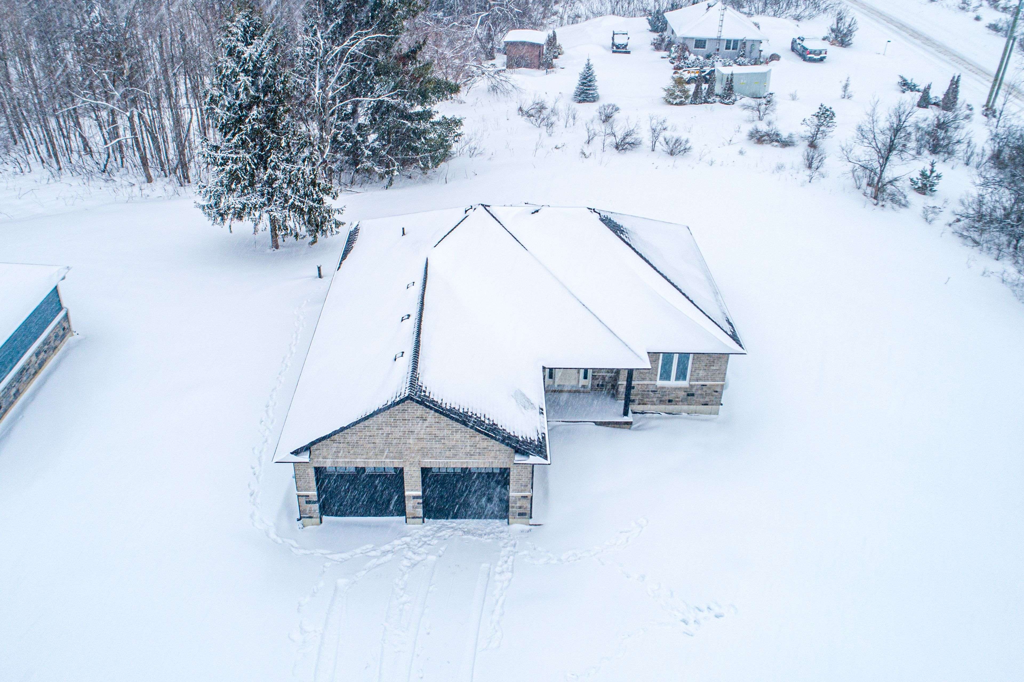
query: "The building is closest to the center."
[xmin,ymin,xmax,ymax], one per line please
[269,200,750,527]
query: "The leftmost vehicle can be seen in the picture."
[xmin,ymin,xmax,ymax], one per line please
[611,25,631,54]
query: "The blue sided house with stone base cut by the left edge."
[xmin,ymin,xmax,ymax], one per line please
[0,264,89,430]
